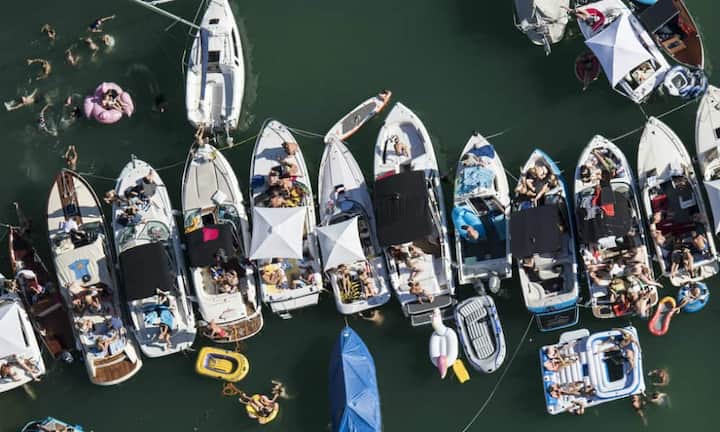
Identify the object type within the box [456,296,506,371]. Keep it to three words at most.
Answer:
boat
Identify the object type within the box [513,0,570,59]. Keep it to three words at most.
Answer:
boat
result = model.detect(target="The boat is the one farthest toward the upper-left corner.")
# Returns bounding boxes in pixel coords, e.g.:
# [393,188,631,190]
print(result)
[124,0,247,144]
